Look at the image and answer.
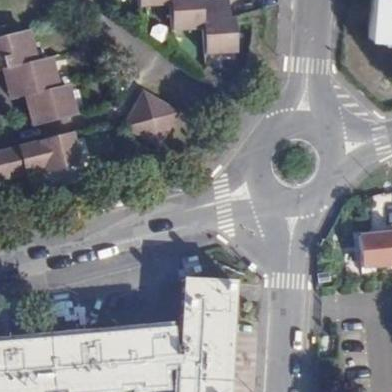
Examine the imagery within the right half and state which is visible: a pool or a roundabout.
roundabout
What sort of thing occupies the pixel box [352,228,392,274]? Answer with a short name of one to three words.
house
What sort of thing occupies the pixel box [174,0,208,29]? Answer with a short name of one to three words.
house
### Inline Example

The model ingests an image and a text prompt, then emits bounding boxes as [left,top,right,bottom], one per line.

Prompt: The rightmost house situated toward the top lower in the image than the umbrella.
[127,88,178,148]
